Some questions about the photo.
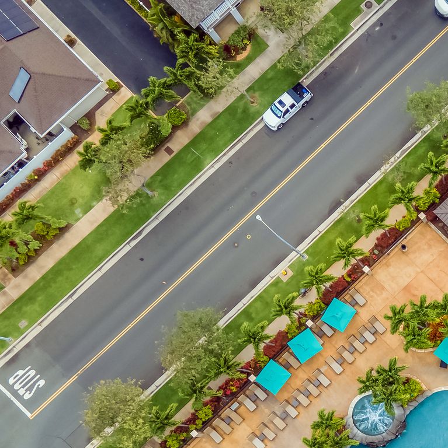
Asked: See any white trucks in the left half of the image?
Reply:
No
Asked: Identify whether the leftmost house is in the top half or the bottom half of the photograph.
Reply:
top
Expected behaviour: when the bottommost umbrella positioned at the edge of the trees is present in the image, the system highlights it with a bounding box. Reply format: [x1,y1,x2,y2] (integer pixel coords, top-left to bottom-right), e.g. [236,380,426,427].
[255,359,292,395]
